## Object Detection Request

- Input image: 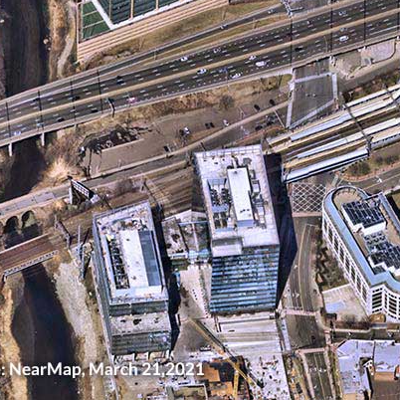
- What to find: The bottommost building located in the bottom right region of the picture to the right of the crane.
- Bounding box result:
[337,340,400,400]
